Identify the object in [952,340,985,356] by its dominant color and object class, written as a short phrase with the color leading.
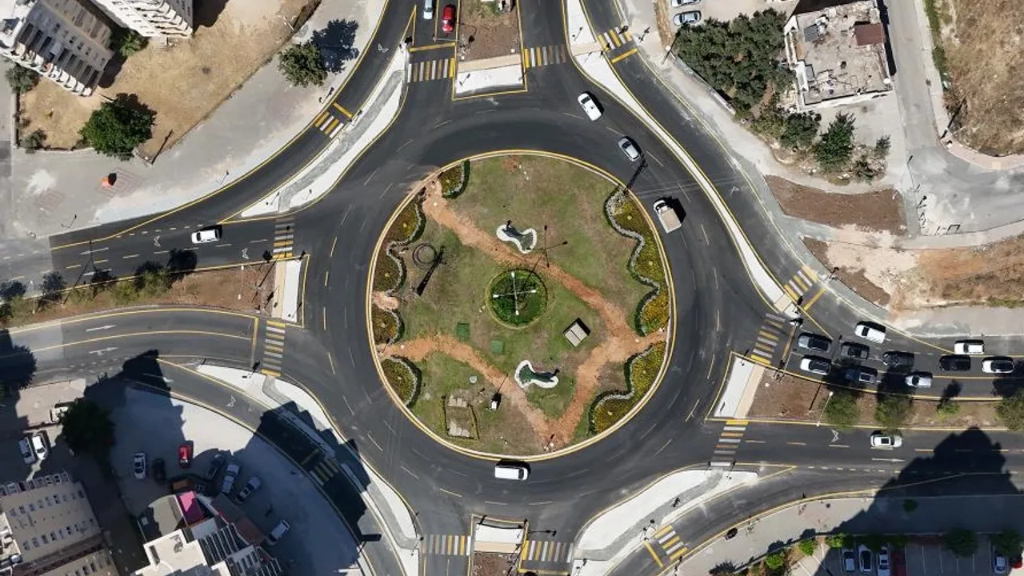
white car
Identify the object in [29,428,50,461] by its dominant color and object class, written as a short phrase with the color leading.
white car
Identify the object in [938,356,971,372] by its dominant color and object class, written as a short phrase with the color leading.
black car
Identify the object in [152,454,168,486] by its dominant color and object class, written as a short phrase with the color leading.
black car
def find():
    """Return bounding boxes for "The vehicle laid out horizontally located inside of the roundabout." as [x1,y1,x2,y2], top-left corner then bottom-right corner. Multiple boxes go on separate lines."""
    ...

[494,464,529,480]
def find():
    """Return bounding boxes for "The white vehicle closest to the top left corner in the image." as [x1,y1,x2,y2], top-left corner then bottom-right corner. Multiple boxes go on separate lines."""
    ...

[192,228,222,243]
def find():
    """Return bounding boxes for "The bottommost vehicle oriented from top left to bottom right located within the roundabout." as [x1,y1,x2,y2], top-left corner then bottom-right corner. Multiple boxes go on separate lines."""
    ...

[651,198,681,234]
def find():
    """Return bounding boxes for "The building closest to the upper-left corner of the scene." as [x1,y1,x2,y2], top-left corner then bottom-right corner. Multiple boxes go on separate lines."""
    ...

[0,0,118,94]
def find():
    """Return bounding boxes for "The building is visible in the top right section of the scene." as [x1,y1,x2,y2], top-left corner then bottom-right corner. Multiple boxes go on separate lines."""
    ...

[777,0,894,114]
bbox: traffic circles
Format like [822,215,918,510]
[305,90,739,524]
